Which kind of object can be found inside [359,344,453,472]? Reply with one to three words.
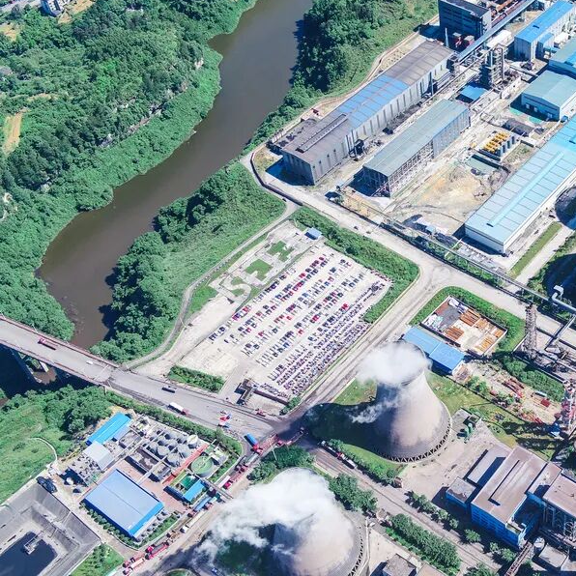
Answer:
cooling tower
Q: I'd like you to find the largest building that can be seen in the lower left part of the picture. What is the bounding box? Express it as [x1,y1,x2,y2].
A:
[83,468,169,542]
